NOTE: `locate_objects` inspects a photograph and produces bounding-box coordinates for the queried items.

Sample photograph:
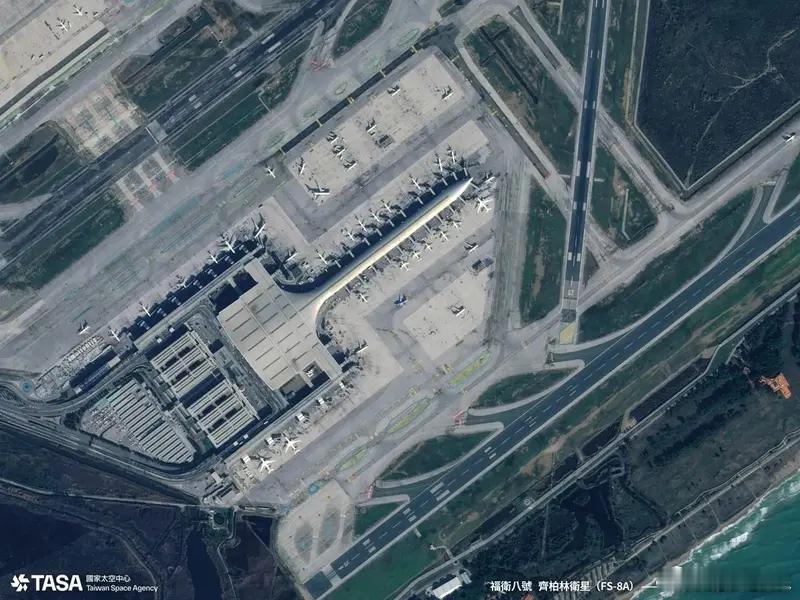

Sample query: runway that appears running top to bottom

[559,0,609,345]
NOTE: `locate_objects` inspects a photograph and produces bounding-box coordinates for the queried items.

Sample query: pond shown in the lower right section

[552,485,626,555]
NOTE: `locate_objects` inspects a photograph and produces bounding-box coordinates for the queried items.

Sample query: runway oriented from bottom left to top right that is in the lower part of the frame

[299,196,800,600]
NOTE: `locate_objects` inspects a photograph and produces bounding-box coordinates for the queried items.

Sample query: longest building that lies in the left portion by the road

[133,177,473,467]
